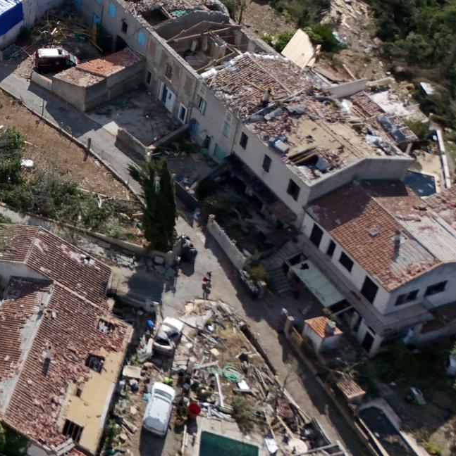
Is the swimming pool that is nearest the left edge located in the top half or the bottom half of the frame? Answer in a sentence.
The bottom half of the photo is where the swimming pool that is nearest the left edge is.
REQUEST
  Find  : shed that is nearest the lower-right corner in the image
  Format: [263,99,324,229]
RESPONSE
[335,377,365,408]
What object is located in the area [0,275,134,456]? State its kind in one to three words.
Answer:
house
